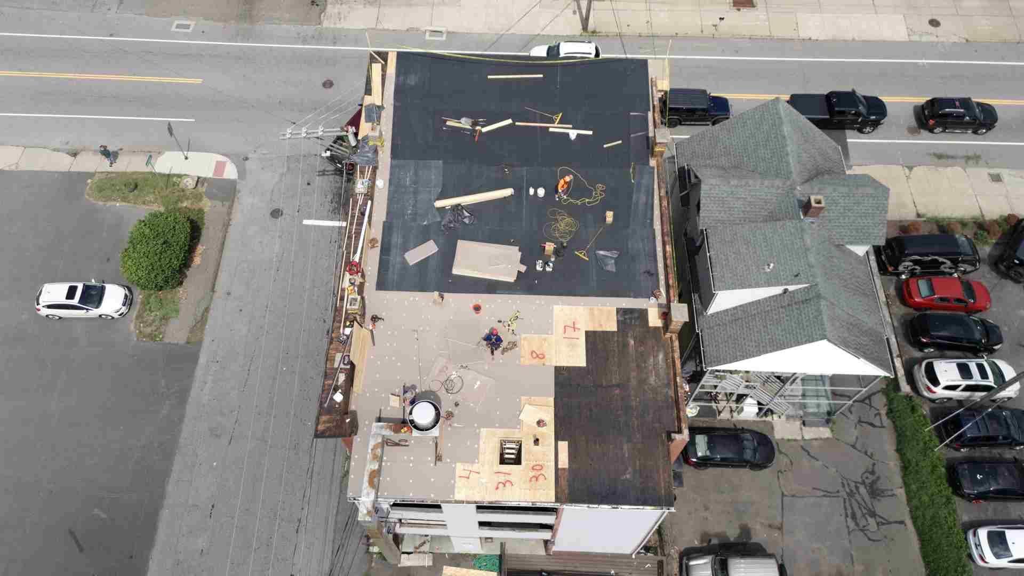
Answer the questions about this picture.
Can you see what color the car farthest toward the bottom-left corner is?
white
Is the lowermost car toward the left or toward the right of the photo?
right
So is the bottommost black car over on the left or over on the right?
right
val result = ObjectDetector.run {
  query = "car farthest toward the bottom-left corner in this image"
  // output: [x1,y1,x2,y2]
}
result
[33,281,139,324]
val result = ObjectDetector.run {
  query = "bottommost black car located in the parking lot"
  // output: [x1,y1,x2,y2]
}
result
[946,456,1024,505]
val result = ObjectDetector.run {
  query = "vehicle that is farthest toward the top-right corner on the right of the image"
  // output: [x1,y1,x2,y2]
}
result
[918,95,998,138]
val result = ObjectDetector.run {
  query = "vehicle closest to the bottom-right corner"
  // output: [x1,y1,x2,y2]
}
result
[963,523,1024,572]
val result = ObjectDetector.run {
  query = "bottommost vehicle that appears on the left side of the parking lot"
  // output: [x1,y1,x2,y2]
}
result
[681,424,775,473]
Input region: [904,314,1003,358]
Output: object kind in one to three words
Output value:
car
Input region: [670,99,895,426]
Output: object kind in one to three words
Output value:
house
